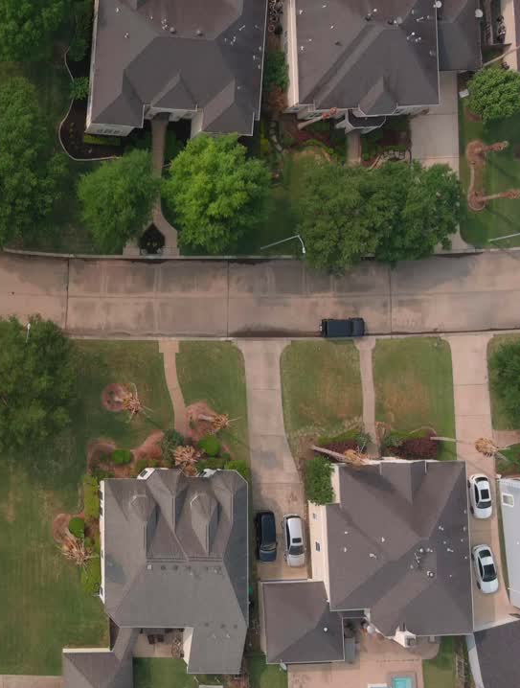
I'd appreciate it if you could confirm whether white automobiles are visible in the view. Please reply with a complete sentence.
Yes, there's a white automobile here.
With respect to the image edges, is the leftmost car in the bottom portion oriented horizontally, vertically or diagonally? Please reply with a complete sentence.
In this picture, the leftmost car in the bottom portion is oriented vertically.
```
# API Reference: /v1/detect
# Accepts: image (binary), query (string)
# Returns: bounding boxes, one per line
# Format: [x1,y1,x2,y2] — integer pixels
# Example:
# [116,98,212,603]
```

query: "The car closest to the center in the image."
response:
[319,318,364,338]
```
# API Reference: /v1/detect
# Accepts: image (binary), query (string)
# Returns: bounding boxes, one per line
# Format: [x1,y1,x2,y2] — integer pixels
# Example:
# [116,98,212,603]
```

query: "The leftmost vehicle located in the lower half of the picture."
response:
[252,513,278,561]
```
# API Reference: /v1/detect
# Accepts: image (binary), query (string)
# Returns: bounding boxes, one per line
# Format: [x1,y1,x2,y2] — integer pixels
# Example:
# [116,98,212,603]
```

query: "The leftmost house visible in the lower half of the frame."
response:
[61,464,249,688]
